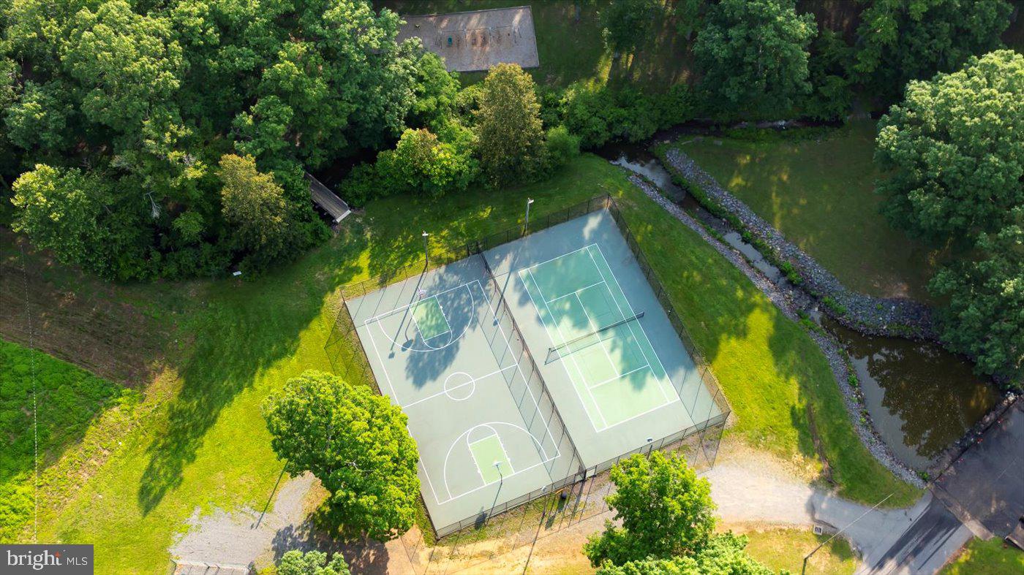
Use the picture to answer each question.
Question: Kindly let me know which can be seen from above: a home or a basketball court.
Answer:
basketball court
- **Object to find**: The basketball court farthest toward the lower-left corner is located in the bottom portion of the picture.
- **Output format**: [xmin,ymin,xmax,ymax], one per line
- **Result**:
[347,252,588,536]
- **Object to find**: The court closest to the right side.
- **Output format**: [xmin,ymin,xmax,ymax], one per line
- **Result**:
[483,208,724,477]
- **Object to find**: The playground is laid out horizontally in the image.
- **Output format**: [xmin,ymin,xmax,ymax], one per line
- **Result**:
[375,5,540,77]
